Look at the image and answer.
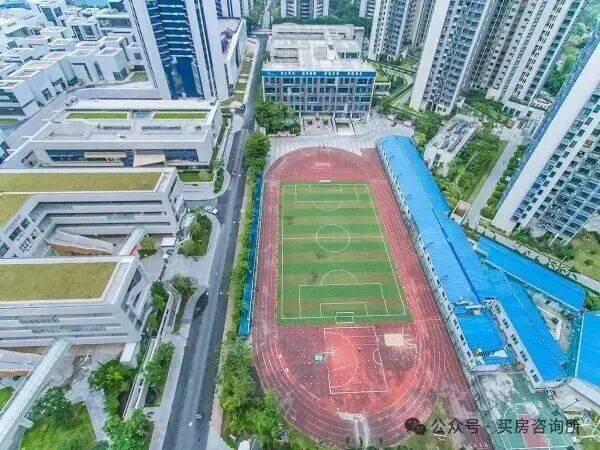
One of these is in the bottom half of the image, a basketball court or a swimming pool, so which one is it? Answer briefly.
basketball court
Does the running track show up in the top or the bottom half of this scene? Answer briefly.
bottom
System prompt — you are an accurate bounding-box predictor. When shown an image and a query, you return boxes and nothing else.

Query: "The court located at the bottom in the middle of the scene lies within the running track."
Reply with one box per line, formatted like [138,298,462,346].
[324,326,387,393]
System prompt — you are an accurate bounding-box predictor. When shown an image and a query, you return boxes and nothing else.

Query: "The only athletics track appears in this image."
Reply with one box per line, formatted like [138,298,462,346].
[249,147,494,450]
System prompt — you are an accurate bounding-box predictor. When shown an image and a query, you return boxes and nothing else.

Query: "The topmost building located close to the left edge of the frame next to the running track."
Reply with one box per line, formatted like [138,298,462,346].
[0,97,222,169]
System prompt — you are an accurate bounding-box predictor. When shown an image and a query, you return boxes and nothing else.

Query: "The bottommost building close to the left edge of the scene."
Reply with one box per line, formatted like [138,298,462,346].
[0,255,152,340]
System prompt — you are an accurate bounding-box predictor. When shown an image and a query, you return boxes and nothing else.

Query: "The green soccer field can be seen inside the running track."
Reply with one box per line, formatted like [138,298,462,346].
[271,181,416,326]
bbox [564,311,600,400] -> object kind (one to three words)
building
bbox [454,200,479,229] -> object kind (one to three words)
building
